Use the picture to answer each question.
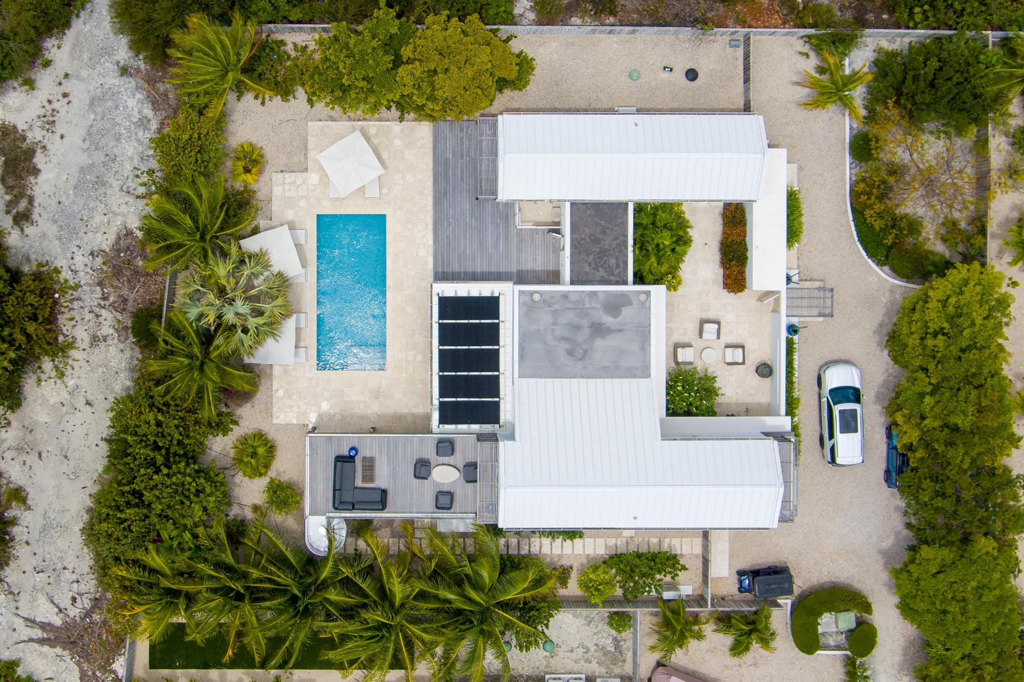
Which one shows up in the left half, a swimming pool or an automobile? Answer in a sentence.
There is a swimming pool in the left half.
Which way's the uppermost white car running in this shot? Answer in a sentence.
From this overhead view, the uppermost white car appears to run up and down.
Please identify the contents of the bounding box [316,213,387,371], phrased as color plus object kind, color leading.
blue swimming pool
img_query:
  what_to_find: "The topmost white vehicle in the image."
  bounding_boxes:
[817,363,868,466]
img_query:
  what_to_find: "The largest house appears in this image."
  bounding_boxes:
[304,106,799,559]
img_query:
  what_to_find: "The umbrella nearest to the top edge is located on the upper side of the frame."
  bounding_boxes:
[317,130,385,197]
